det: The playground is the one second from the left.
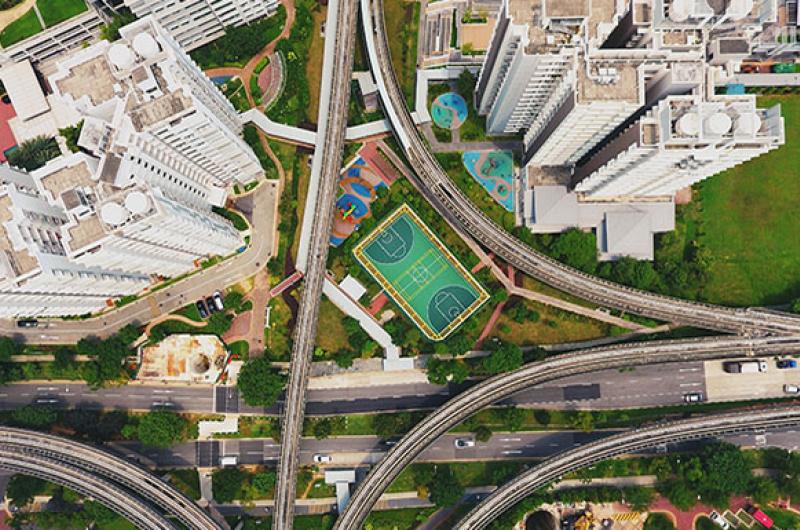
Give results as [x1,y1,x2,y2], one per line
[431,91,467,129]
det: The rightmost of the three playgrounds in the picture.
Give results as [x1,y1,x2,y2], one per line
[462,149,514,211]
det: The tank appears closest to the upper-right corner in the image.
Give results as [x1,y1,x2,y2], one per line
[716,0,757,28]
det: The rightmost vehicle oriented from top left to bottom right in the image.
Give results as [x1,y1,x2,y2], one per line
[748,505,778,530]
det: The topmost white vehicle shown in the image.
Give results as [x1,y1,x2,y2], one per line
[212,291,224,309]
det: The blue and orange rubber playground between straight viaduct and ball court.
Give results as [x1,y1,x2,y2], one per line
[331,141,398,246]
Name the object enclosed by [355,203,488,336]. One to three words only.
basketball court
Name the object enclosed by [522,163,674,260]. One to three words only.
building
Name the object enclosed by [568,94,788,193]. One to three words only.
building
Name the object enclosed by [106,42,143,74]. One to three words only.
water tank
